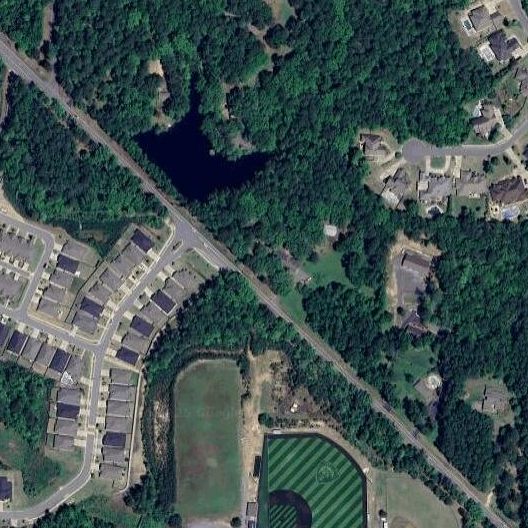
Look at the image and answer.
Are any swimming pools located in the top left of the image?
No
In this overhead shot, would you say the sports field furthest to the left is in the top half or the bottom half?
bottom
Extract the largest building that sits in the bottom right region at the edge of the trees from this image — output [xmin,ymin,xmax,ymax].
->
[479,387,508,415]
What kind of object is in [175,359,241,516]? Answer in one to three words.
sports field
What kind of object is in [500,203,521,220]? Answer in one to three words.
swimming pool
